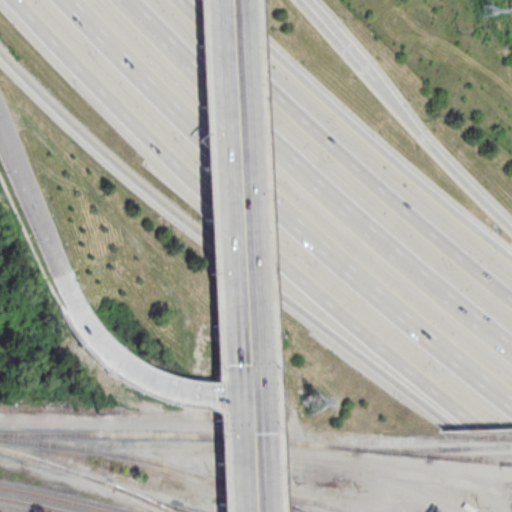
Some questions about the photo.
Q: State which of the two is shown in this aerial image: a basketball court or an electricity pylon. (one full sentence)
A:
There is an electricity pylon in the scene.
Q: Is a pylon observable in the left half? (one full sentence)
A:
No, I can find no pylon in the left half.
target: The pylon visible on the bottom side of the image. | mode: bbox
[296,389,343,418]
